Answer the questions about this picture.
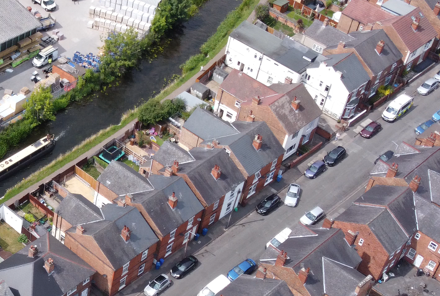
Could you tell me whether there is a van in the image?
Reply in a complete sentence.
Yes, I can see a van in this picture.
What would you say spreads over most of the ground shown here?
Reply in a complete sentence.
The largest share of the image is taken up by buildings.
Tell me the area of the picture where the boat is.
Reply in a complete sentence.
The boat is located in the left region of the scene.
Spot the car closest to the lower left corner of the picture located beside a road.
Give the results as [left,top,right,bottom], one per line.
[143,274,173,296]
